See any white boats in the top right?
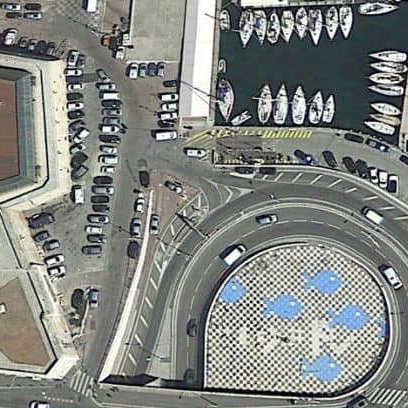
Yes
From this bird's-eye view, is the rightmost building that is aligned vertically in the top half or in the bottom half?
top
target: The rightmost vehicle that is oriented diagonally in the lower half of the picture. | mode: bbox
[381,265,401,289]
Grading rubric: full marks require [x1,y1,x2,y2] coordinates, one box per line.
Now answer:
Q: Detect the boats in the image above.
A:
[371,62,408,73]
[270,83,288,124]
[368,84,405,96]
[371,103,403,116]
[219,60,226,75]
[252,10,268,46]
[254,84,273,124]
[360,2,398,15]
[309,90,324,124]
[306,10,322,45]
[337,7,352,39]
[235,9,254,47]
[322,95,336,122]
[324,7,339,39]
[294,7,309,39]
[220,7,231,31]
[369,73,404,84]
[370,50,407,62]
[289,86,307,124]
[371,113,401,124]
[233,110,252,124]
[364,122,396,133]
[268,8,281,44]
[211,79,233,122]
[279,10,294,42]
